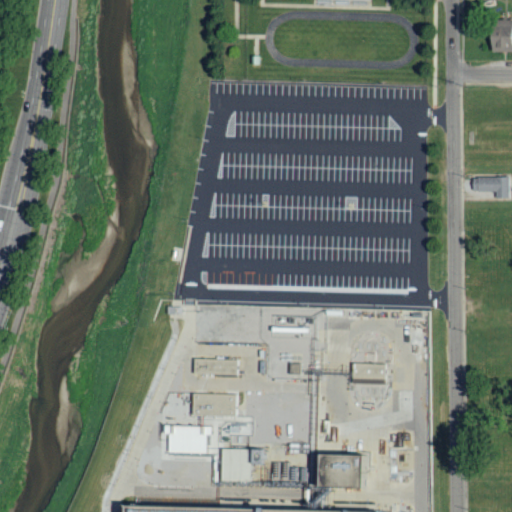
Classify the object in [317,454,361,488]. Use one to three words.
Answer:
building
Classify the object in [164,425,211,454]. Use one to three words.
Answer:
building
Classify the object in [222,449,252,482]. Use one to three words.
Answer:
shed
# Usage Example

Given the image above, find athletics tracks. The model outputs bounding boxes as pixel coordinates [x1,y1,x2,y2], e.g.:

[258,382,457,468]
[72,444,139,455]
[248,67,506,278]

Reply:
[266,11,418,70]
